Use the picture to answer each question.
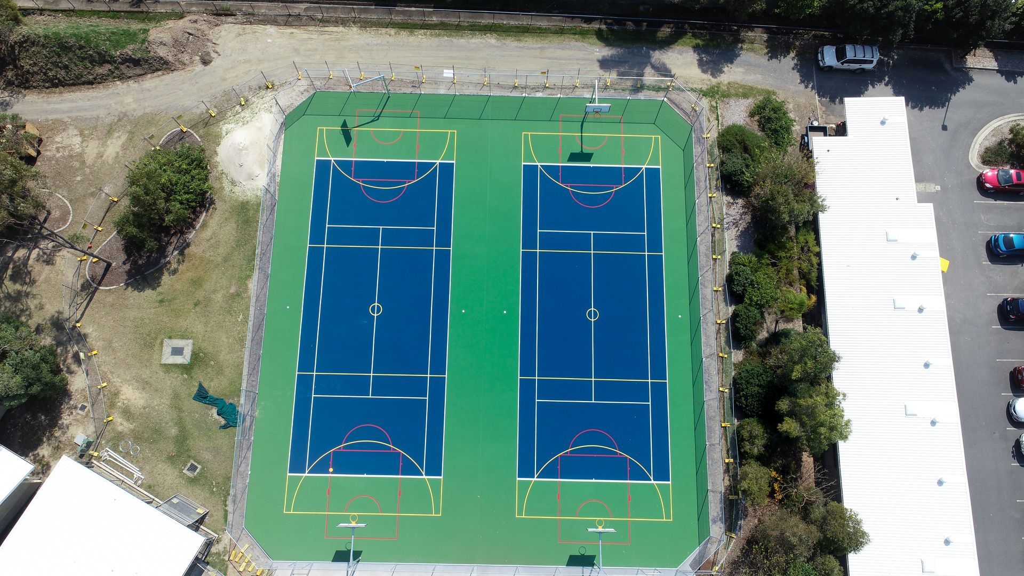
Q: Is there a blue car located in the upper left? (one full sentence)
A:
No, the scene shows no blue car in the upper left.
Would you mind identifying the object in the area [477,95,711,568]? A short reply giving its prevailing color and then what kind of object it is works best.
green sports court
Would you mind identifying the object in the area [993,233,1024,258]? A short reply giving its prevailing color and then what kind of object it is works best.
blue car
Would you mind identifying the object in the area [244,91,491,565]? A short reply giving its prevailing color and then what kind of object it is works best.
green sports court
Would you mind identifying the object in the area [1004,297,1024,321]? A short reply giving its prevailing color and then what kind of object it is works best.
black car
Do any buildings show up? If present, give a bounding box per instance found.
[803,95,980,576]
[0,454,232,576]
